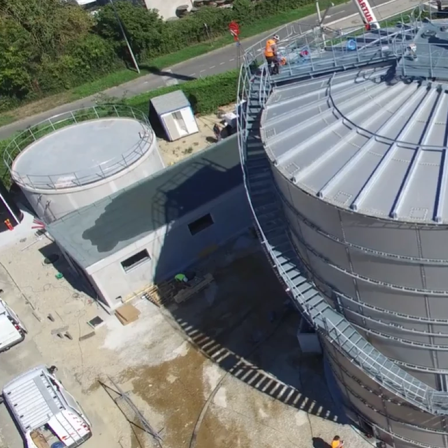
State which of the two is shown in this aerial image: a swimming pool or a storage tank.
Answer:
storage tank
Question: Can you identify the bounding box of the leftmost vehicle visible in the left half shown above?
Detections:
[0,294,31,350]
